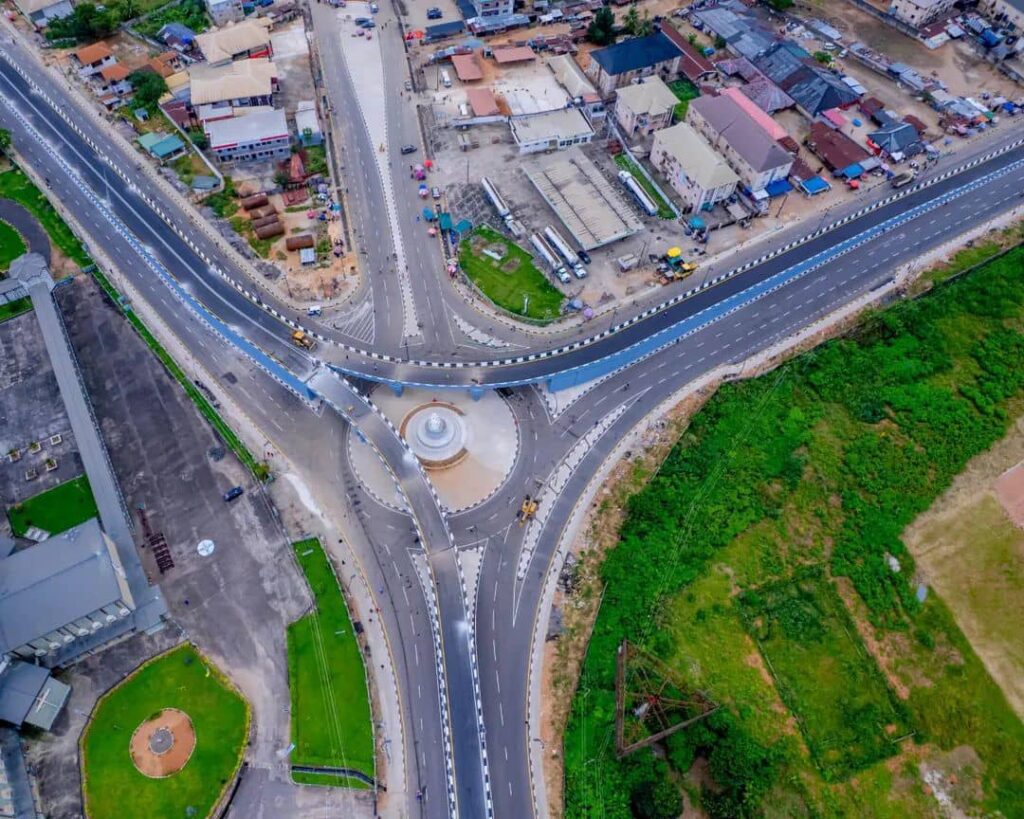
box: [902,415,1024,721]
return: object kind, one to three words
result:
sports field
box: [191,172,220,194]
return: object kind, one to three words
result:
house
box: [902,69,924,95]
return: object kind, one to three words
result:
shed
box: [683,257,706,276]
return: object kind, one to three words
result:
work vehicle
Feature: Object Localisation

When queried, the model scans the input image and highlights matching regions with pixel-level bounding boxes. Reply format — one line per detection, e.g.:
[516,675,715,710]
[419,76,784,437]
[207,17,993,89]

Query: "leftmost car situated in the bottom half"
[220,485,245,501]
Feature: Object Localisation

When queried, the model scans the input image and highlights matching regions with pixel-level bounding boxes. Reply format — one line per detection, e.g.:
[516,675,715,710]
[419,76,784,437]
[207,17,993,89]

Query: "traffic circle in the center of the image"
[319,362,541,539]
